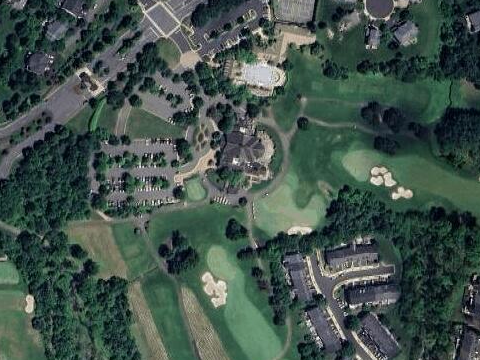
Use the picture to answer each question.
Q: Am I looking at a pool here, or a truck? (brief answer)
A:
pool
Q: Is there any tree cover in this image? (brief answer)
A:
Yes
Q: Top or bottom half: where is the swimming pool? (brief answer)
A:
top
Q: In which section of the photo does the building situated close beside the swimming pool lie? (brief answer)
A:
center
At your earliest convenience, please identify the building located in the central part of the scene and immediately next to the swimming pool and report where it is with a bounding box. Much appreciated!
[221,122,274,180]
